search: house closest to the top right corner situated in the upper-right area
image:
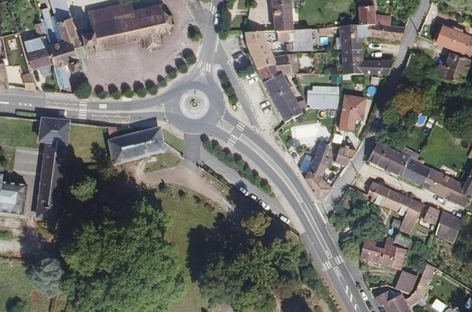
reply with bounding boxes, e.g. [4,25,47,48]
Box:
[436,24,472,57]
